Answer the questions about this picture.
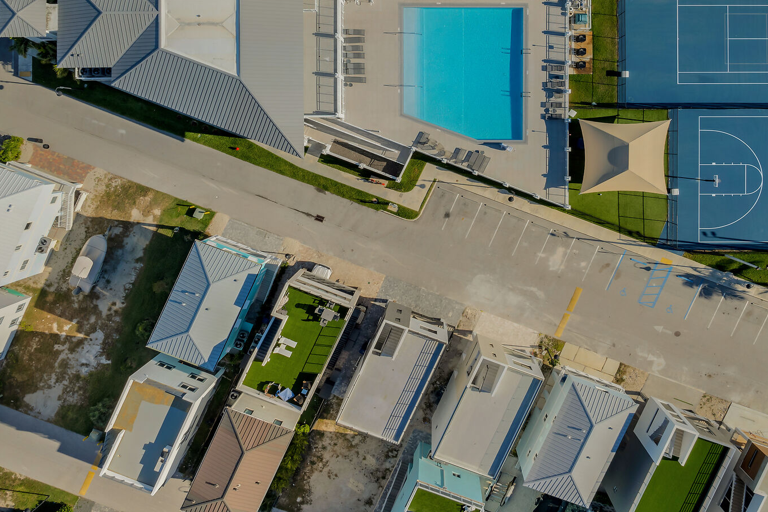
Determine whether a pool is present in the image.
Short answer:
Yes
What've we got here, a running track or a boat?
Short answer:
boat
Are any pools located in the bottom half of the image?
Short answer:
No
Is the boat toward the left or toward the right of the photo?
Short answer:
left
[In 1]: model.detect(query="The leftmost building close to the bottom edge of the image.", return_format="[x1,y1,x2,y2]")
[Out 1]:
[100,353,223,495]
